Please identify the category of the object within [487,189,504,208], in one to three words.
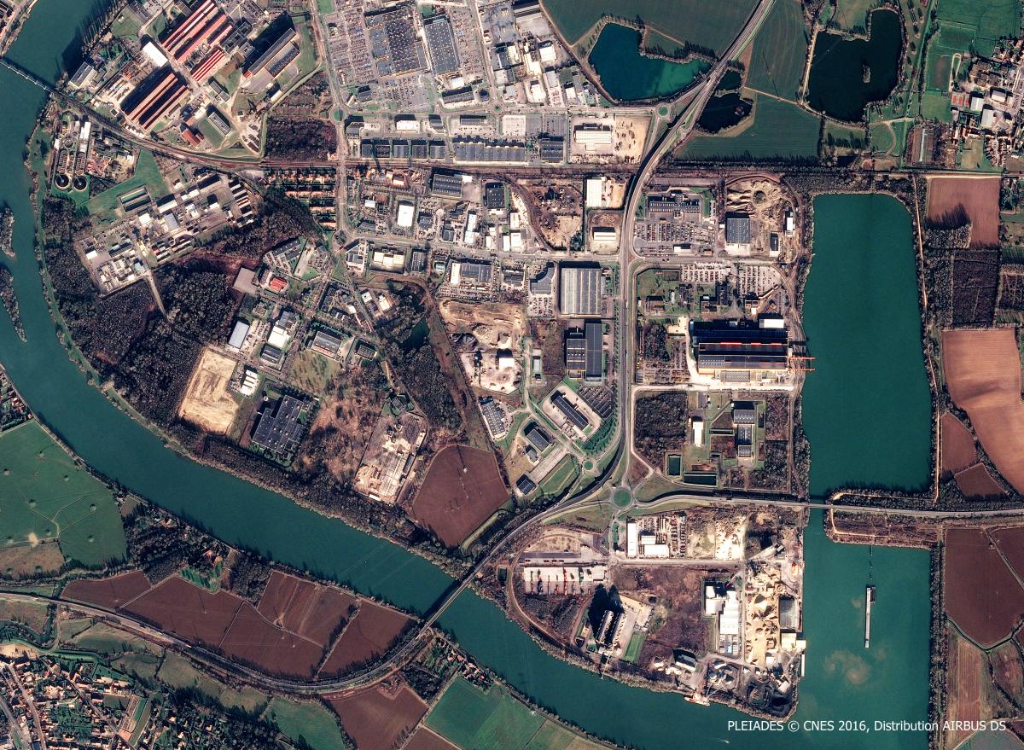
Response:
building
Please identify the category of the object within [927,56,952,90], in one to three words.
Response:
soccer field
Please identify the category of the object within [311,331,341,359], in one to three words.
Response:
building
